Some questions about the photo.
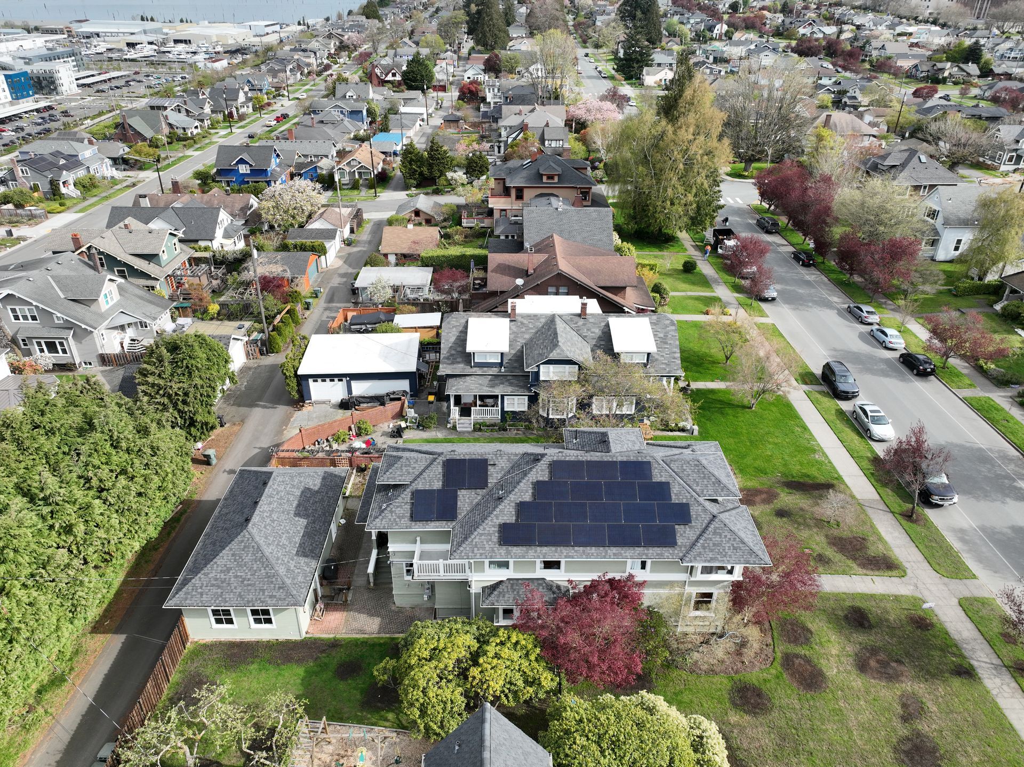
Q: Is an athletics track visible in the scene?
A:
No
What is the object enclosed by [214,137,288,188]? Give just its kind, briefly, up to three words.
house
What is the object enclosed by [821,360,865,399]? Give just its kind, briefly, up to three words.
car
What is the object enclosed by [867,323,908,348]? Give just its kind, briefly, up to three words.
car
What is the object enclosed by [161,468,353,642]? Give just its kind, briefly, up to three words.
building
